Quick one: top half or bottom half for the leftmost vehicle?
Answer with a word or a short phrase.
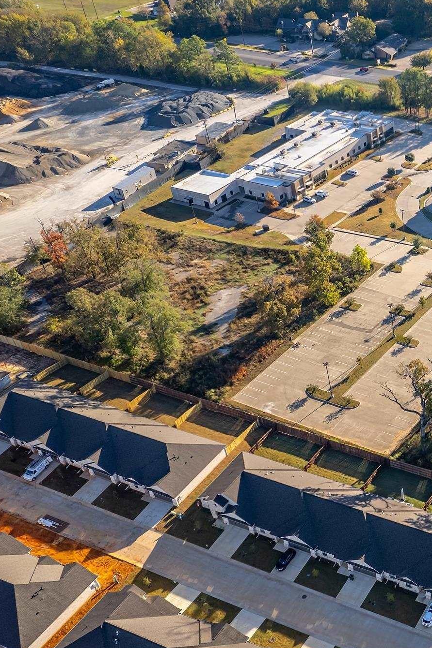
bottom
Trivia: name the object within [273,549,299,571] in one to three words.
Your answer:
car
